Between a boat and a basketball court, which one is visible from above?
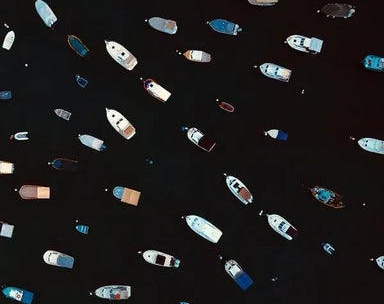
boat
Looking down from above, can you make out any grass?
No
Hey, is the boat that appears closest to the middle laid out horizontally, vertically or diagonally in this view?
diagonally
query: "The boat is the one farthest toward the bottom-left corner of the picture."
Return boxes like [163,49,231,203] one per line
[2,288,32,304]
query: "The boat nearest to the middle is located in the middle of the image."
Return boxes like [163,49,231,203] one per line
[186,128,216,152]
